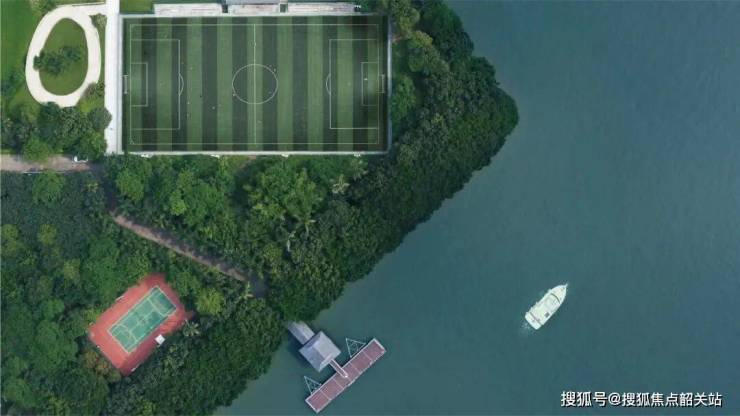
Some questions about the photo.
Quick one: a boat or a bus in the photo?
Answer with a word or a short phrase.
boat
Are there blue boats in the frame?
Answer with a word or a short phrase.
No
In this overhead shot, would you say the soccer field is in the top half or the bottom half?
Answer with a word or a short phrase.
top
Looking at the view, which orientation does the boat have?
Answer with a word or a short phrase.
diagonally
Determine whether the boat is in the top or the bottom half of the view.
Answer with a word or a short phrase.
bottom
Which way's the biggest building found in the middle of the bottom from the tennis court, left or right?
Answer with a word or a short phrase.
on its right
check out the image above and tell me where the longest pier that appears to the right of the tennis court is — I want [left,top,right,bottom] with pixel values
[306,338,386,413]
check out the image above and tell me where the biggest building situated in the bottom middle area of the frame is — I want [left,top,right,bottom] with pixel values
[300,331,340,372]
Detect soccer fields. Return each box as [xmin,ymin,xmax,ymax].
[119,13,391,155]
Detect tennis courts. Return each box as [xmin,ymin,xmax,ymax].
[88,269,194,375]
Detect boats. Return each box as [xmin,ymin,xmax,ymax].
[525,284,568,329]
